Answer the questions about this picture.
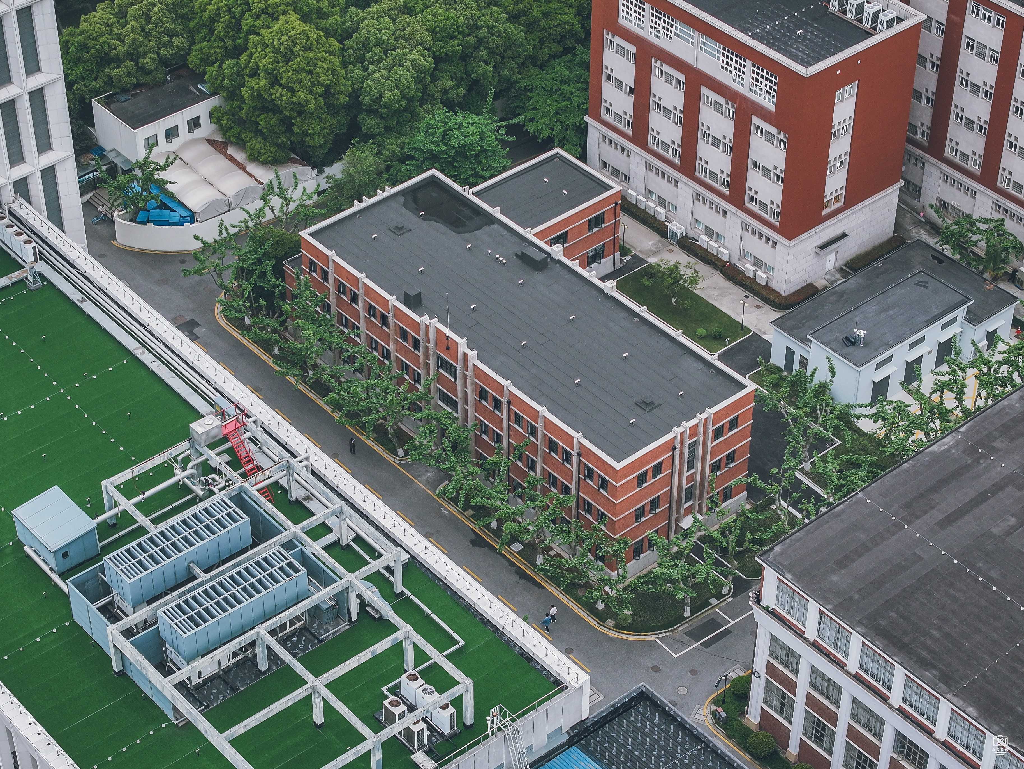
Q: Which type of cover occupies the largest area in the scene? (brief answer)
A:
buildings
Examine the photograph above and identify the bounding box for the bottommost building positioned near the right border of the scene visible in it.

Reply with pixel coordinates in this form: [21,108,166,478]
[737,383,1024,769]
